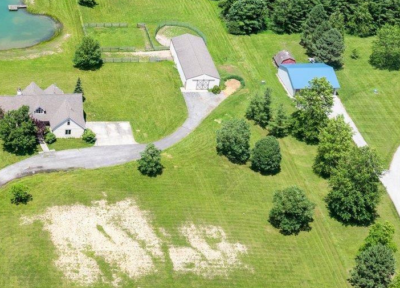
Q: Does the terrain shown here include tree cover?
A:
Yes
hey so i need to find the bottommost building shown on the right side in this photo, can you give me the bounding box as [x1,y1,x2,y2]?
[277,64,341,98]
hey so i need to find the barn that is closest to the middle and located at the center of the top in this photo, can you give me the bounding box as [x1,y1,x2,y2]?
[173,32,221,89]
